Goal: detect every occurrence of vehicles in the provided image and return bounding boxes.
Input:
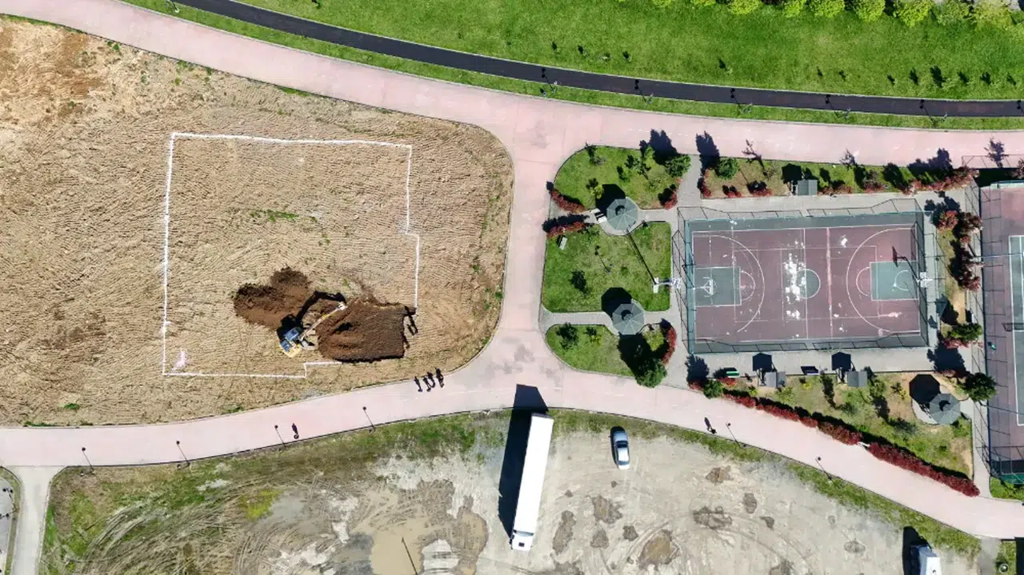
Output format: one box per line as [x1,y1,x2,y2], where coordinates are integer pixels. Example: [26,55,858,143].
[508,408,554,550]
[276,305,344,358]
[611,427,630,468]
[912,547,940,575]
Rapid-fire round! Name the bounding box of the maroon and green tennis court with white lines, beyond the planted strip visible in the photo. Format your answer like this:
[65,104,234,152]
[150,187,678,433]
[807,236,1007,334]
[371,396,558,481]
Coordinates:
[979,184,1024,478]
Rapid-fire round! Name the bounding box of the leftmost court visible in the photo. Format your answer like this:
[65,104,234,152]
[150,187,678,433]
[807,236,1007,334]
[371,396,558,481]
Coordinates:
[685,211,928,355]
